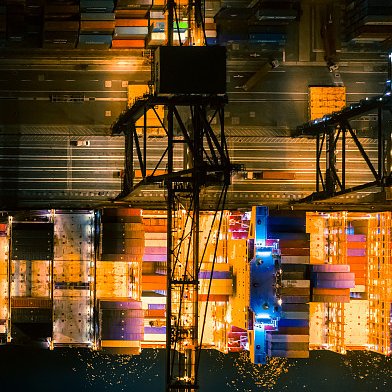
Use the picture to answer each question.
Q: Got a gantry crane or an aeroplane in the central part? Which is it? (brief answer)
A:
gantry crane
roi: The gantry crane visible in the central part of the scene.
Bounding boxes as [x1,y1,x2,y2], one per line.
[107,0,242,392]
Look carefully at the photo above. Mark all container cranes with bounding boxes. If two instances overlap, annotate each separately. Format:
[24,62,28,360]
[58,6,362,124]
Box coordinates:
[294,56,392,201]
[107,0,242,392]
